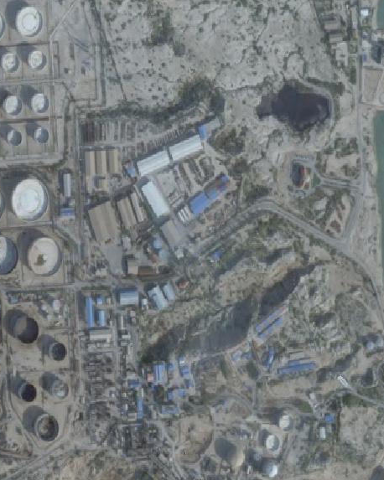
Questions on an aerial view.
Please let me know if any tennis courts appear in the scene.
No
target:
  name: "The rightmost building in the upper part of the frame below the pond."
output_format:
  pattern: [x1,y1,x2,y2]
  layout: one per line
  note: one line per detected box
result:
[294,162,310,187]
